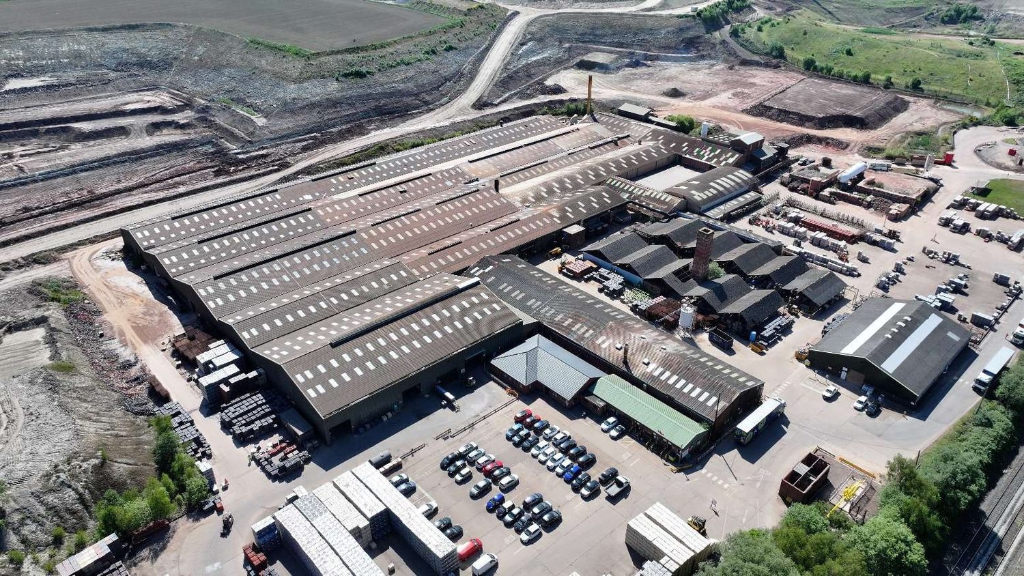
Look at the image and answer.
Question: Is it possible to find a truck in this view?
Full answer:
Yes, there is a truck in the image.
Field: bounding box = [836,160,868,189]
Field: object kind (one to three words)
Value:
storage tank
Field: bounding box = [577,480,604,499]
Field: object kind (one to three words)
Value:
car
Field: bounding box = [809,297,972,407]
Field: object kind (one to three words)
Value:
shed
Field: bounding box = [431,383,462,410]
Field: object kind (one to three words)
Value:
truck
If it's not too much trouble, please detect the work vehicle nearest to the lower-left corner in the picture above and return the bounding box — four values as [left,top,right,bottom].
[218,507,240,533]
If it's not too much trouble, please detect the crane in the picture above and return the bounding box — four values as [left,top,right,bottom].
[827,471,873,515]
